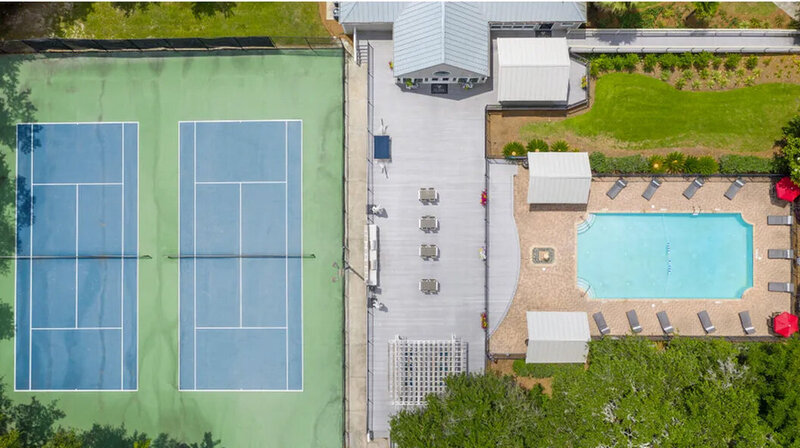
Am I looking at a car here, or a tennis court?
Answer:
tennis court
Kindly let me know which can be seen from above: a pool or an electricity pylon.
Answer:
pool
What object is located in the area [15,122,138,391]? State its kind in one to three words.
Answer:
tennis court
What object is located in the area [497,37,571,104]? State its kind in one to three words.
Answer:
building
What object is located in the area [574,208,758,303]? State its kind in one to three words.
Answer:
swimming pool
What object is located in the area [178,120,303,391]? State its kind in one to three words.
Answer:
tennis court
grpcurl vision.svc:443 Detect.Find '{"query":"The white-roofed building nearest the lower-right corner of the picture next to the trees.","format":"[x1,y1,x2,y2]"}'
[526,311,592,363]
